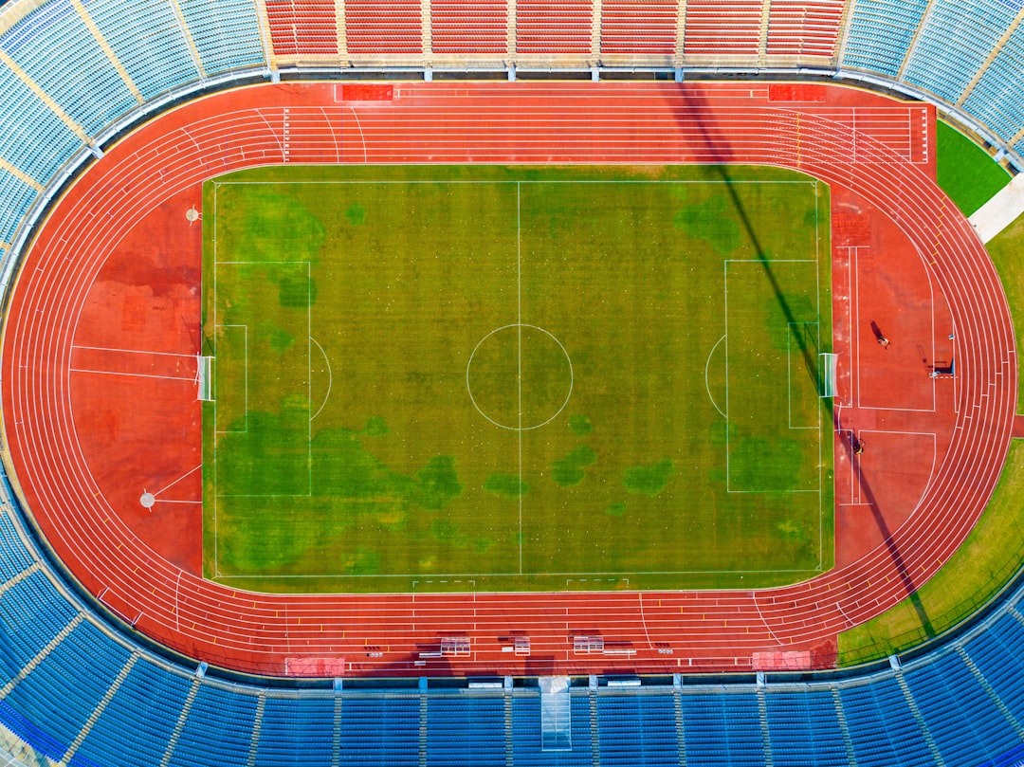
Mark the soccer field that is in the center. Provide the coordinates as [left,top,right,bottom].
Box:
[202,165,835,593]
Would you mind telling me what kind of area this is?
sports ground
